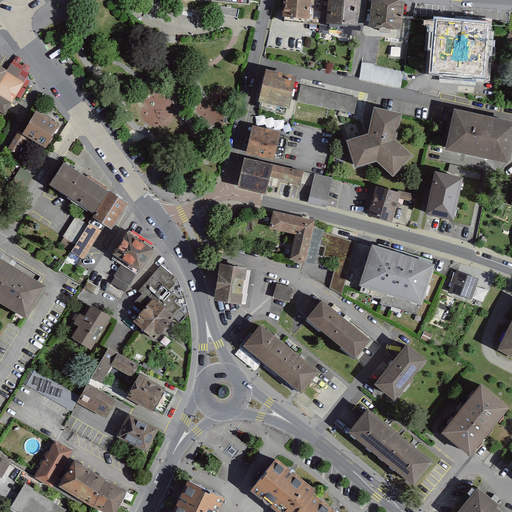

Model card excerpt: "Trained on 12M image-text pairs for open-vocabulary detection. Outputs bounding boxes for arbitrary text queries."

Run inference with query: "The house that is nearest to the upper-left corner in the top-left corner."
[0,56,30,114]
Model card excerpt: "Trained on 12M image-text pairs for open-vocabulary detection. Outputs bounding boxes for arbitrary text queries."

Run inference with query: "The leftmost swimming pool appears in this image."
[24,438,40,454]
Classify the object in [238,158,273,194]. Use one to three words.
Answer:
house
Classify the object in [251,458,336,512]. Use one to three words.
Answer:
building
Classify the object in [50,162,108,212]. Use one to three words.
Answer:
building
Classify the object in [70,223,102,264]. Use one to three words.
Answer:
house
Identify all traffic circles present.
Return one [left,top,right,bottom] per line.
[192,362,252,422]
